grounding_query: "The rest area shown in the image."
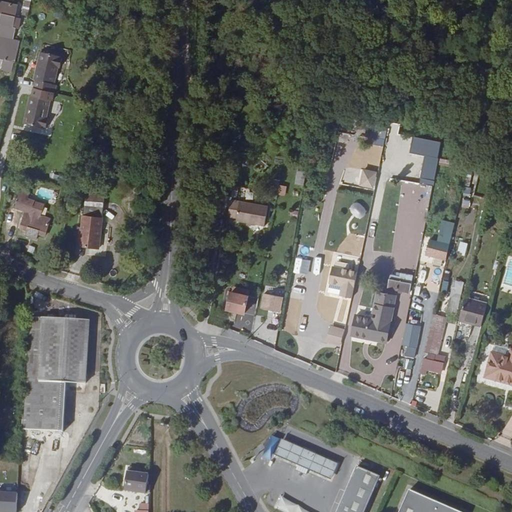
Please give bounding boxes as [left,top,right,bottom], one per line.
[244,426,360,512]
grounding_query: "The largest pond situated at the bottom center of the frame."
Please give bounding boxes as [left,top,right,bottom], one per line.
[236,383,298,433]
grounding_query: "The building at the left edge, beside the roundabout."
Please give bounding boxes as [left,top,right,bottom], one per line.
[23,317,90,432]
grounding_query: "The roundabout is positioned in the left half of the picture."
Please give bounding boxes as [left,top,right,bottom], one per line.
[118,316,203,400]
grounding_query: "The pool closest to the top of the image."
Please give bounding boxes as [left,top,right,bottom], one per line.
[36,186,57,204]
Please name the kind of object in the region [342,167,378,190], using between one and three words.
shed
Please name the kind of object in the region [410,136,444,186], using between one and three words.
building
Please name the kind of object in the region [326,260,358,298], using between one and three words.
house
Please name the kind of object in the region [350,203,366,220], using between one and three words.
gazebo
